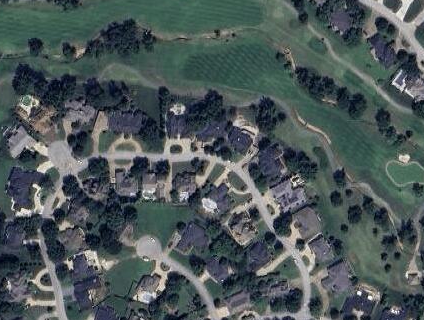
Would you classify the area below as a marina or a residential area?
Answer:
residential area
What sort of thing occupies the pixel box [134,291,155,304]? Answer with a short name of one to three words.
swimming pool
